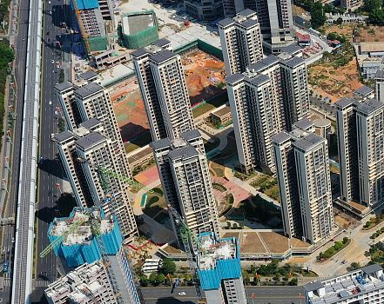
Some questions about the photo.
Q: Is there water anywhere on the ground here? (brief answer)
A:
No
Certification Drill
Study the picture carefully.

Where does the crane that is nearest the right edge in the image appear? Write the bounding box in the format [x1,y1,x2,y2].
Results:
[166,179,204,296]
